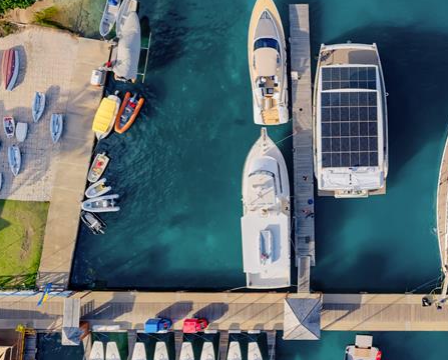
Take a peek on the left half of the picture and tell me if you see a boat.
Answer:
Yes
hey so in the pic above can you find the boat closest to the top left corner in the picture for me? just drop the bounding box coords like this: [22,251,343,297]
[0,48,16,91]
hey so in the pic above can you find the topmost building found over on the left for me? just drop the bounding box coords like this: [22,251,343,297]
[62,319,91,344]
